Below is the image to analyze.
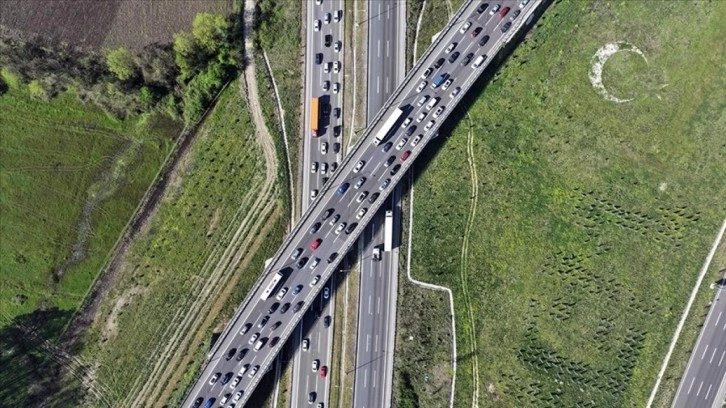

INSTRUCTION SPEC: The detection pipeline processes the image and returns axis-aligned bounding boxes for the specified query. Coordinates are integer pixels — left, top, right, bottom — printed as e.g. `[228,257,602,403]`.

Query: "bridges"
[179,0,547,408]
